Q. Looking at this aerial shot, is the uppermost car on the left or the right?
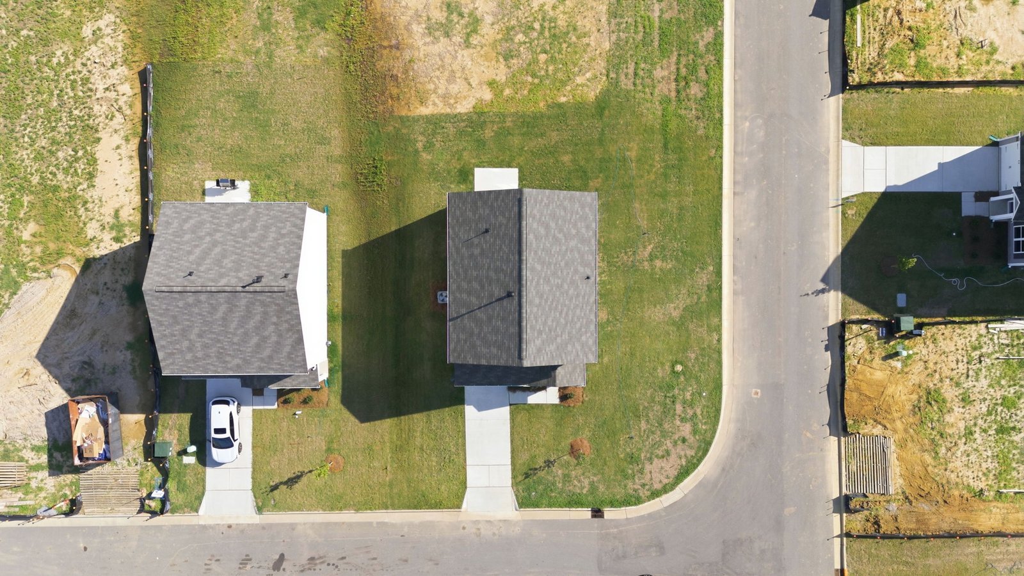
left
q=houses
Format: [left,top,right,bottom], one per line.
[142,200,328,389]
[988,130,1024,265]
[446,188,599,388]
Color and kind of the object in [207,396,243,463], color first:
white car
